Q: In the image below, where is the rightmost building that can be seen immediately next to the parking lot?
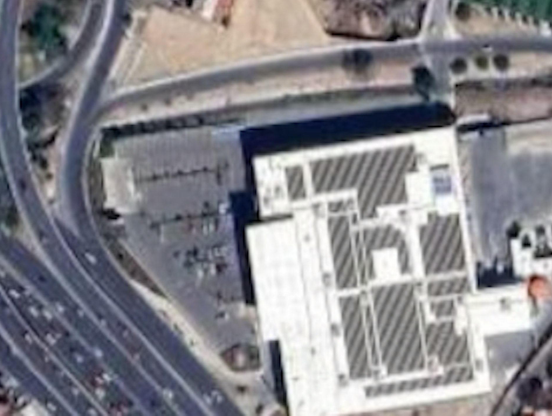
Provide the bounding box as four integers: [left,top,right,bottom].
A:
[229,124,533,416]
